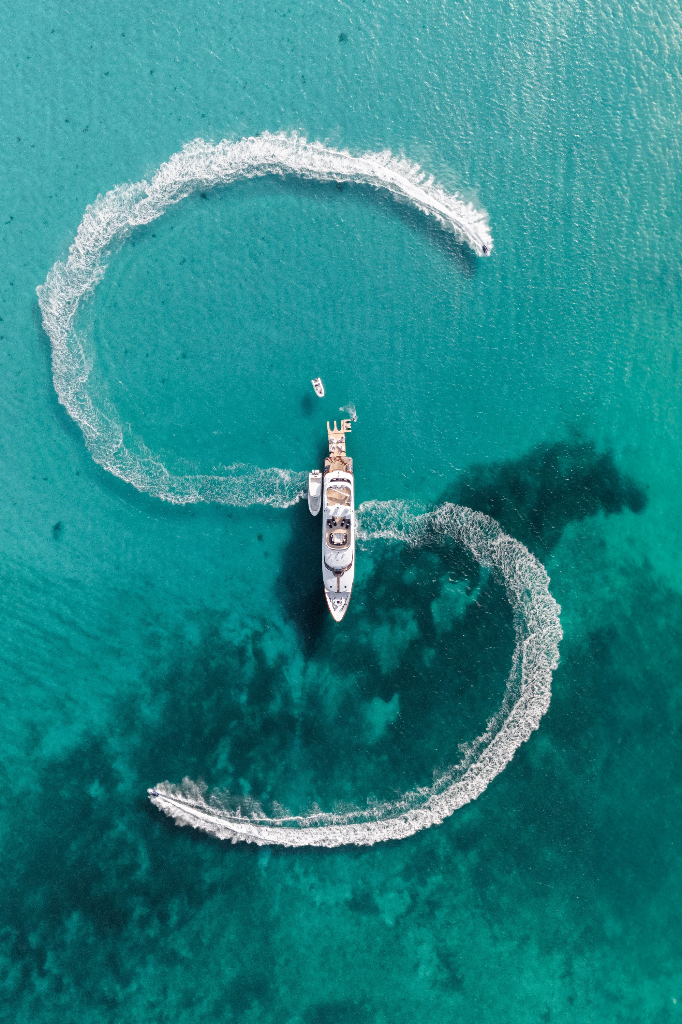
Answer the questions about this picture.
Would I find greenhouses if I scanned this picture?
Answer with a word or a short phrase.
No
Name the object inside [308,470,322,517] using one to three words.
boat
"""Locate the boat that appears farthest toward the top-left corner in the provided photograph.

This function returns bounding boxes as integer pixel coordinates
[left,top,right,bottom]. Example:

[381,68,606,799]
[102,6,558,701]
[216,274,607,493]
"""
[311,377,324,396]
